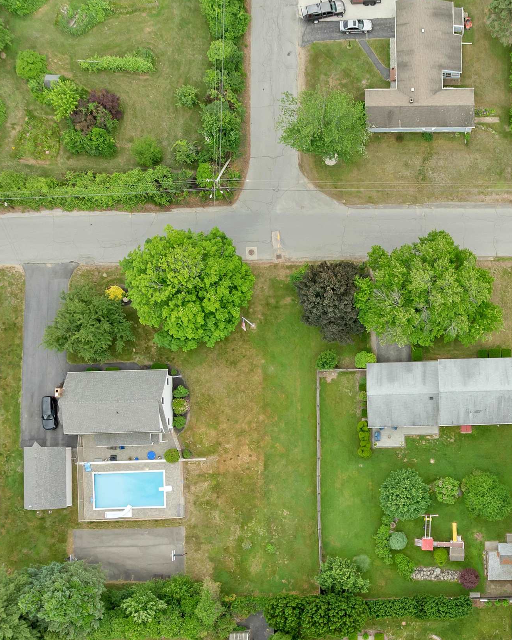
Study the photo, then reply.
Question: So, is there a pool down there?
Yes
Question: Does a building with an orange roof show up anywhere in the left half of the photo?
No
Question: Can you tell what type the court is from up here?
basketball court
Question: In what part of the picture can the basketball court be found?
bottom left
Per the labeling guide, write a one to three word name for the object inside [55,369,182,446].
house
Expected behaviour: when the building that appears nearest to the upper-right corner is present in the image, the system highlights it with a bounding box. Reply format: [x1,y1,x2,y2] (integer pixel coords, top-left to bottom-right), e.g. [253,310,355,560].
[365,0,476,133]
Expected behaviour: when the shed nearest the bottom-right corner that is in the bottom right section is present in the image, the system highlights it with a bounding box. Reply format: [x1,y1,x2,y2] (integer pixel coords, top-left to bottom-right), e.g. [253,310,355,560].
[485,533,512,581]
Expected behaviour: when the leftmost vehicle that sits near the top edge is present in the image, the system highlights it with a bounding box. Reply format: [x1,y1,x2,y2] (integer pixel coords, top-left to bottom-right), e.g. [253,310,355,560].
[298,0,345,23]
